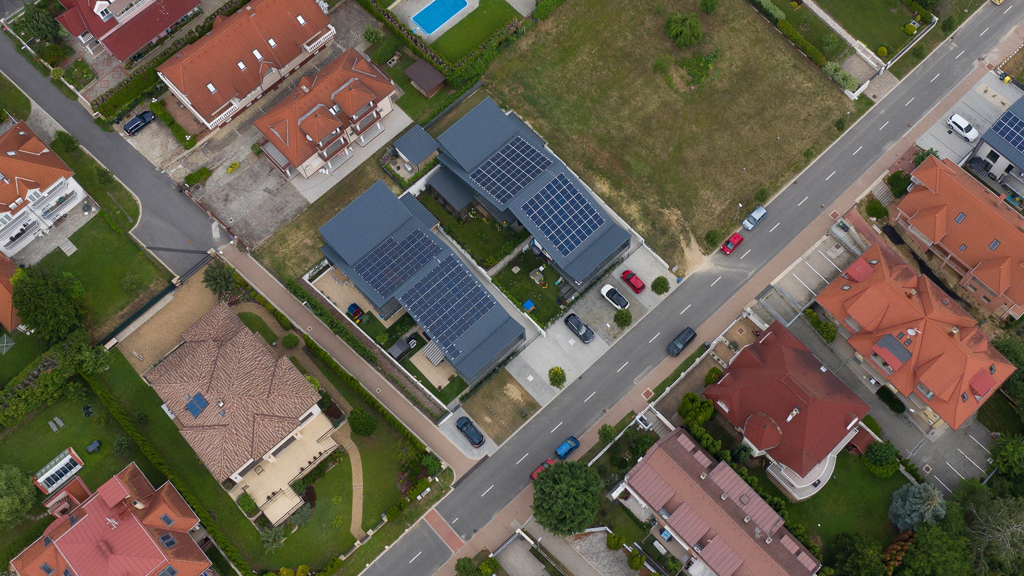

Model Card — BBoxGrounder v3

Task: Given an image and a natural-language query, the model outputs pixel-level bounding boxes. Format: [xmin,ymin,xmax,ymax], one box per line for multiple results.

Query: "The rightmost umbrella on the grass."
[529,245,544,258]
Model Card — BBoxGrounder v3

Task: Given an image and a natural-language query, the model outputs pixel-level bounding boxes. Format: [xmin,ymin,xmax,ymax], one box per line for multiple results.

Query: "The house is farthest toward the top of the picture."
[56,0,203,65]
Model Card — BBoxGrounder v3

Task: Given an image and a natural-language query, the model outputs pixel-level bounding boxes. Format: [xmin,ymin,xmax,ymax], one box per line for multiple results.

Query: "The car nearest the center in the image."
[562,310,597,344]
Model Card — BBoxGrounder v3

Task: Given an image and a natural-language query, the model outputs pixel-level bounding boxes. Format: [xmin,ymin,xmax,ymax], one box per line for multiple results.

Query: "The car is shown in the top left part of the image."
[122,112,156,135]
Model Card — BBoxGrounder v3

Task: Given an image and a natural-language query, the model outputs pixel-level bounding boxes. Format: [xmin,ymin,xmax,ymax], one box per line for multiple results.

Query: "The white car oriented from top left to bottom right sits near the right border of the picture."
[944,112,978,142]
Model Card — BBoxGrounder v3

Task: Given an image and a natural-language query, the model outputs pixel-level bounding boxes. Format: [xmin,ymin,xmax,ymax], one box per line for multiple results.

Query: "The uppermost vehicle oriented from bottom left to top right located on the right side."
[741,204,770,232]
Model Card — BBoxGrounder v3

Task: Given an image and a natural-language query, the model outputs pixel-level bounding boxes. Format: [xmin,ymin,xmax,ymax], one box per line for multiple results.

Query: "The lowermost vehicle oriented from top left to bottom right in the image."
[454,416,487,450]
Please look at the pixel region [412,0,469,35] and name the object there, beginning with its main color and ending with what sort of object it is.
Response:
blue swimming pool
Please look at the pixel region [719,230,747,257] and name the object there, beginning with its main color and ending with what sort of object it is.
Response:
red car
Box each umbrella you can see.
[969,154,989,173]
[529,245,544,258]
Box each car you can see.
[665,324,700,357]
[944,112,978,142]
[562,310,597,344]
[122,112,156,135]
[552,435,581,462]
[741,204,770,232]
[719,230,747,257]
[454,416,487,450]
[619,269,649,296]
[599,284,632,310]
